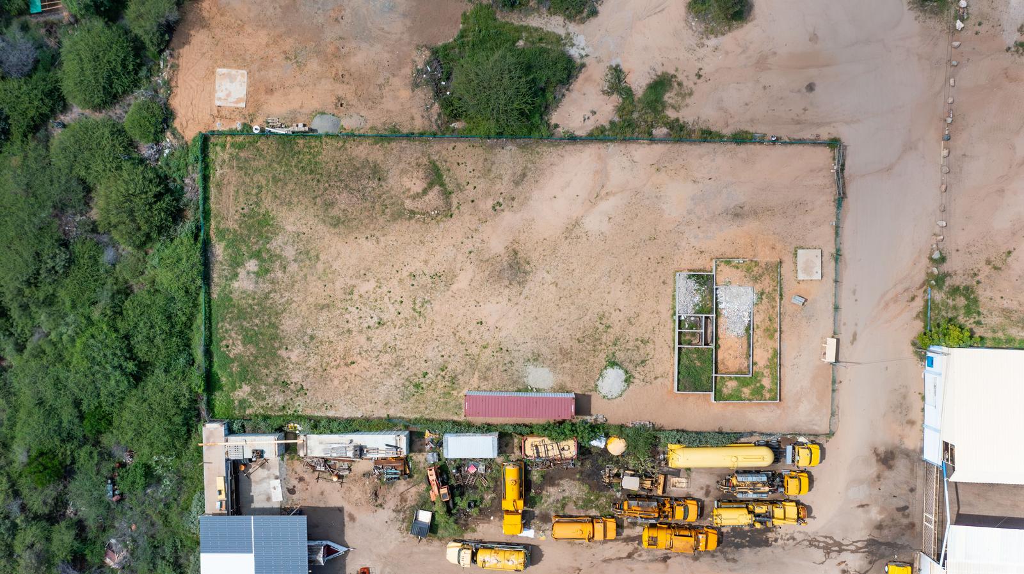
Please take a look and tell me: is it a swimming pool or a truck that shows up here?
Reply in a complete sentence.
Looking from above, you can make out a truck.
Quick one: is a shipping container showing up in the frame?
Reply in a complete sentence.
Yes, there's a shipping container down there.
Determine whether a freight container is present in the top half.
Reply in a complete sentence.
No, looking in the top half, there is no freight container.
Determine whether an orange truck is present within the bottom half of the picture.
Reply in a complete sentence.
Yes, within the bottom half of the picture there is an orange truck.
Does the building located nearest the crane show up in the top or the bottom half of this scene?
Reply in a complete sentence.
The building located nearest the crane is in the bottom half of the image.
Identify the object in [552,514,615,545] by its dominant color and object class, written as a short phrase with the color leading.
orange truck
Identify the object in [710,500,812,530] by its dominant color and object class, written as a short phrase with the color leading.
yellow truck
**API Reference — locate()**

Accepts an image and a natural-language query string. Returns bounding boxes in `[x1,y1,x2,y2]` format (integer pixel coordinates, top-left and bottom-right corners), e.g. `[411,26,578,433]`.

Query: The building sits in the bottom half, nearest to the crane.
[201,506,317,574]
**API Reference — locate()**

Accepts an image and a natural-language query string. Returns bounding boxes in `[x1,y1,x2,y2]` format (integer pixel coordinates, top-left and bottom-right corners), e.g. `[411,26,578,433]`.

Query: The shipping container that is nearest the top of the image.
[465,392,575,421]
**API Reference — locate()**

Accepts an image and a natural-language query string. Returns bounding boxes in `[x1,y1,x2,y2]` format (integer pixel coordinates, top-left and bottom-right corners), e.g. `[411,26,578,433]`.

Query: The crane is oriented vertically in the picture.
[426,464,455,511]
